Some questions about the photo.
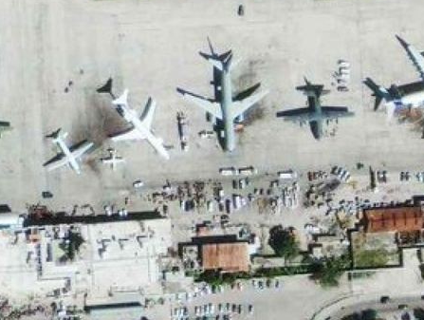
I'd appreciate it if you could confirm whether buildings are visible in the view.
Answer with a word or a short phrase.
Yes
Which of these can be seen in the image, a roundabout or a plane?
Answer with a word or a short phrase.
plane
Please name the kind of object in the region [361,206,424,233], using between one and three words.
shed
